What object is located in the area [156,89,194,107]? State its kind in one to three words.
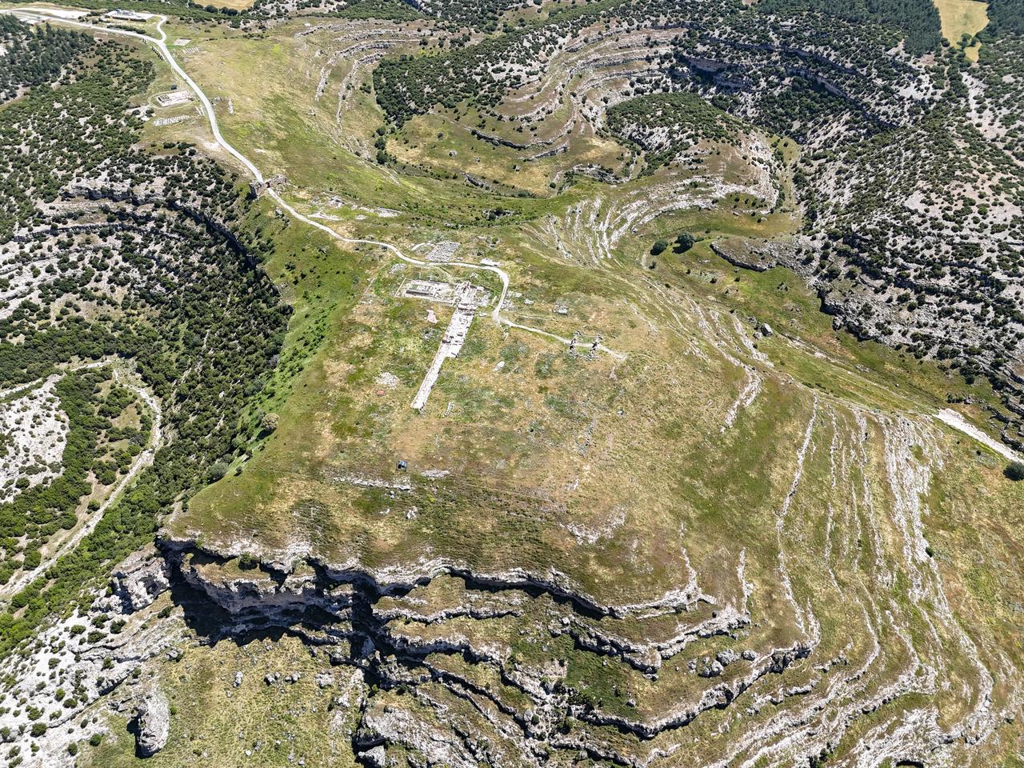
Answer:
building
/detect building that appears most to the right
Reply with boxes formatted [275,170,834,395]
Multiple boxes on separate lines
[456,281,490,309]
